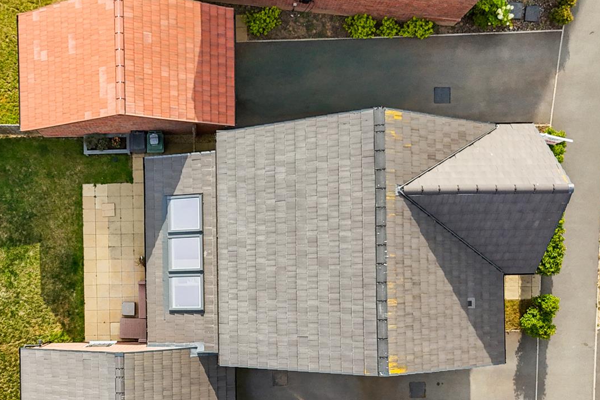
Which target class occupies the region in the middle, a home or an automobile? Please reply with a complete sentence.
It is a home that can be seen in the middle.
